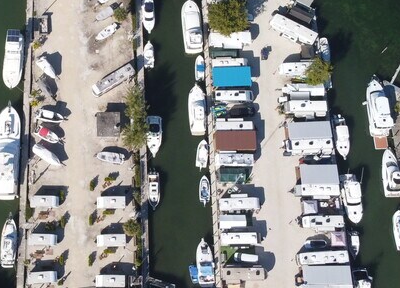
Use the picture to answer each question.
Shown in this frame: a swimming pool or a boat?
boat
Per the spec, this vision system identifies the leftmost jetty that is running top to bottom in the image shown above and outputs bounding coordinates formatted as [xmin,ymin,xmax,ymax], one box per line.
[201,0,222,288]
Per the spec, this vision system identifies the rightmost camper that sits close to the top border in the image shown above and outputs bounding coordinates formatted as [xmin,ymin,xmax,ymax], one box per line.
[268,14,317,45]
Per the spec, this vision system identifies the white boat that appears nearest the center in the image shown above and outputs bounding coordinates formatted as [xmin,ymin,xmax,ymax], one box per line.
[195,137,208,169]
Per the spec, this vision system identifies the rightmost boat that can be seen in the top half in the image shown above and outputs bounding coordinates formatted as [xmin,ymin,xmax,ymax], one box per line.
[365,72,394,145]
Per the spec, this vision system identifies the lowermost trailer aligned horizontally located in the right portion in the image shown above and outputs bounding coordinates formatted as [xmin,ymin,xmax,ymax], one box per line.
[219,267,266,280]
